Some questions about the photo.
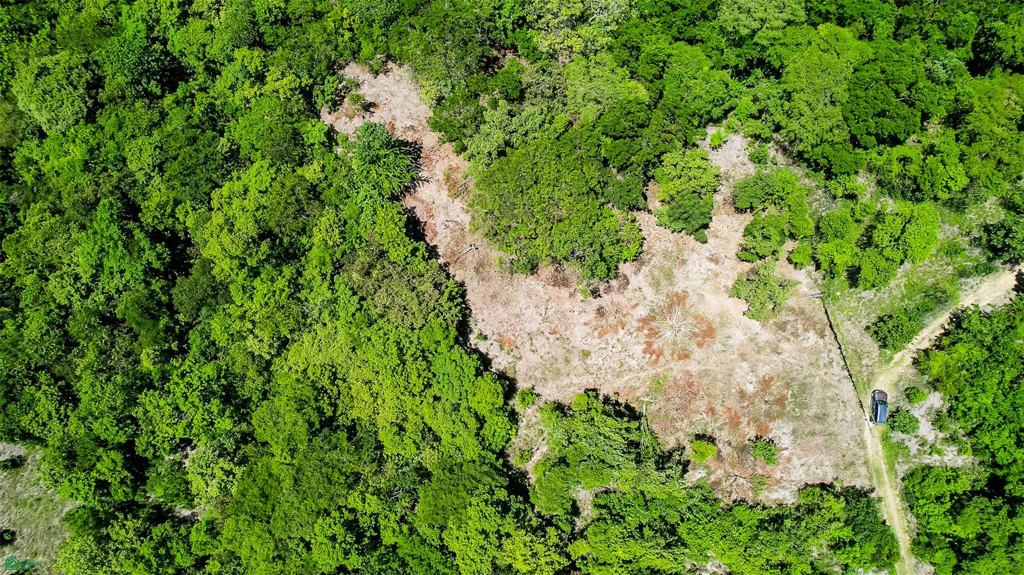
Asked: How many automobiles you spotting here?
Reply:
1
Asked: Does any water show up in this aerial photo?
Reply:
No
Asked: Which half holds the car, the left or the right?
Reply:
right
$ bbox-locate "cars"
[869,390,890,425]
